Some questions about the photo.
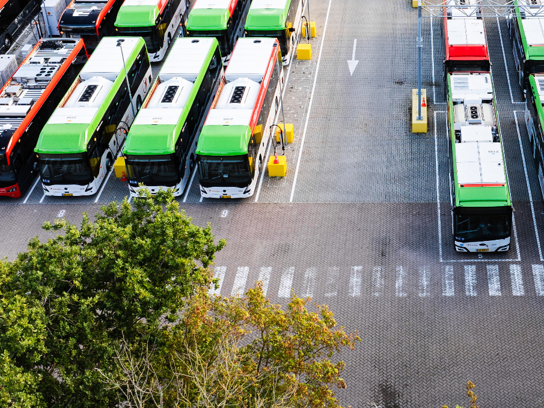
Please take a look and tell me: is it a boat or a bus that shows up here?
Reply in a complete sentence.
This aerial view contains a bus.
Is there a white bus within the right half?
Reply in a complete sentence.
Yes, I can see a white bus within the right half.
